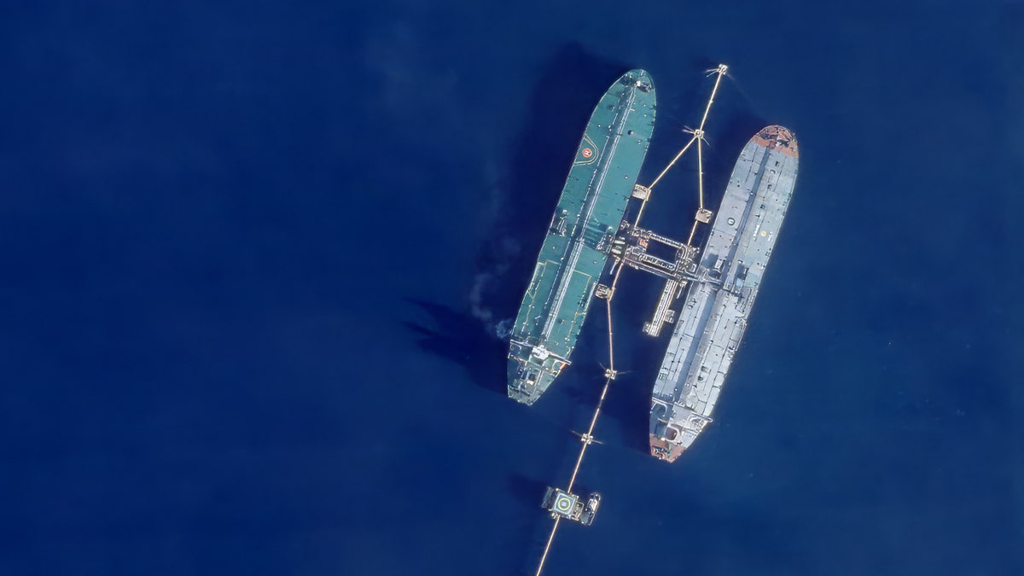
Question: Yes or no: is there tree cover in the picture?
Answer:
No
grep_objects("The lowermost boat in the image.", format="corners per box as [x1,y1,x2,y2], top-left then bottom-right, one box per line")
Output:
[580,492,601,525]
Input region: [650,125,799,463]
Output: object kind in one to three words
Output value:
ship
